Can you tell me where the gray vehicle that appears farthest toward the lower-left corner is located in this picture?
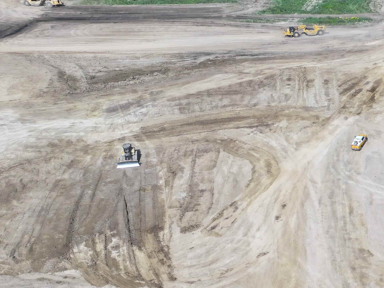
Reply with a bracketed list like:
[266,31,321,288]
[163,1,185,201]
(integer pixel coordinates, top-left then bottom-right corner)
[115,143,140,167]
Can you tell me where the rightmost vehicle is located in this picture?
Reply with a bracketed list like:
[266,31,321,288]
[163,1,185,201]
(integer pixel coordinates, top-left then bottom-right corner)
[350,134,368,150]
